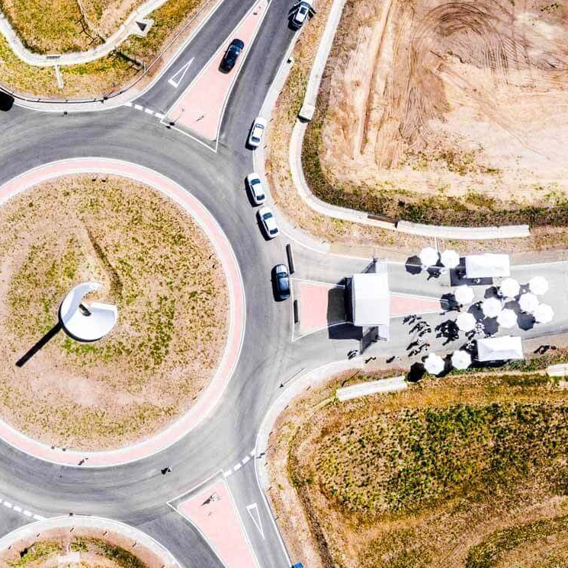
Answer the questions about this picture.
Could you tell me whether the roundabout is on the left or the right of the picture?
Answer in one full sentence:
The roundabout sits on the left side.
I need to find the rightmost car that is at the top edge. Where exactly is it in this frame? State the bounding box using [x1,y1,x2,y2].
[286,0,314,30]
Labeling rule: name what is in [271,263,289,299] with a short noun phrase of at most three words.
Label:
car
